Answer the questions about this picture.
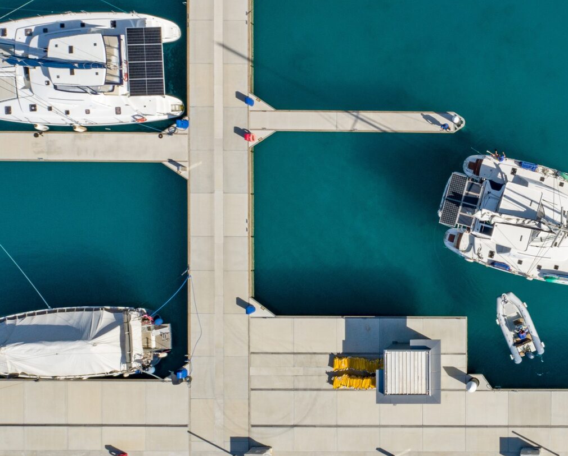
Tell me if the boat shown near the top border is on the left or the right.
left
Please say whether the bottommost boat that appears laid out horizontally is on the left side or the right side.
left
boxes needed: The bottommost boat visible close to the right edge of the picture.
[495,292,543,361]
